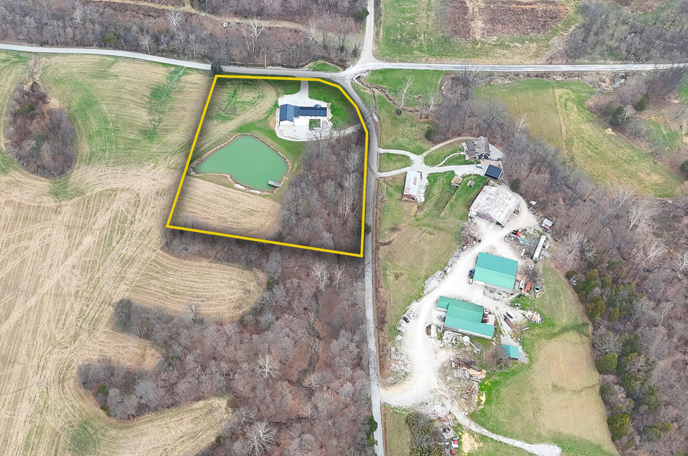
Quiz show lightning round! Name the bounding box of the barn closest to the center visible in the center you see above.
[401,169,422,203]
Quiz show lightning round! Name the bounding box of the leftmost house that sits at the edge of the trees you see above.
[279,102,331,129]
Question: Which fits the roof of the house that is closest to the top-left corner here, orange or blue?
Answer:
blue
